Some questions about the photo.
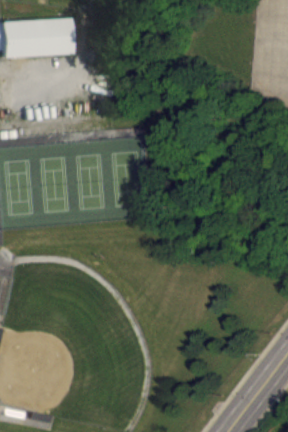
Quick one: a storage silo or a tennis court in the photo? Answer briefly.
tennis court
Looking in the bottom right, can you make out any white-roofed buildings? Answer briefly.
No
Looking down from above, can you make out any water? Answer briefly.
No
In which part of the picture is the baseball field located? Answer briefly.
bottom left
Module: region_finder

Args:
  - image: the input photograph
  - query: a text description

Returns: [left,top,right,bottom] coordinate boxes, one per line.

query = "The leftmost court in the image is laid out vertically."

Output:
[4,159,32,215]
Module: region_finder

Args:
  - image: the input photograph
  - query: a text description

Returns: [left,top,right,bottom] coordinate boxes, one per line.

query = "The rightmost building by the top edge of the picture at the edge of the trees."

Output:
[3,16,78,58]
